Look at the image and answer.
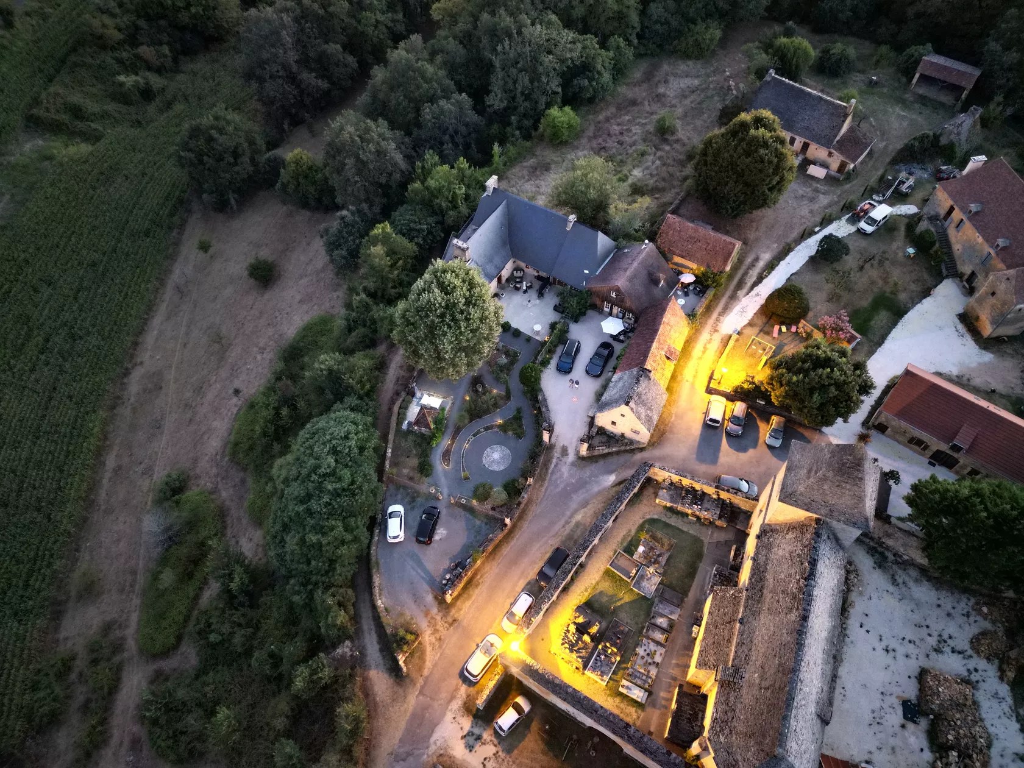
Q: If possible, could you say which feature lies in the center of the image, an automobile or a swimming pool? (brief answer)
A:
automobile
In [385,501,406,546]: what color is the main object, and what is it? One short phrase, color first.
white car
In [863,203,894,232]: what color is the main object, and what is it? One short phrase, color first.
white car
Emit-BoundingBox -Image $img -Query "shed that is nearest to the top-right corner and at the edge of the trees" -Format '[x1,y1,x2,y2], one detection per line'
[912,49,985,105]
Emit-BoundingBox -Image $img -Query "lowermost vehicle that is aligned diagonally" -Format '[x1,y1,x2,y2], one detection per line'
[490,691,535,741]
